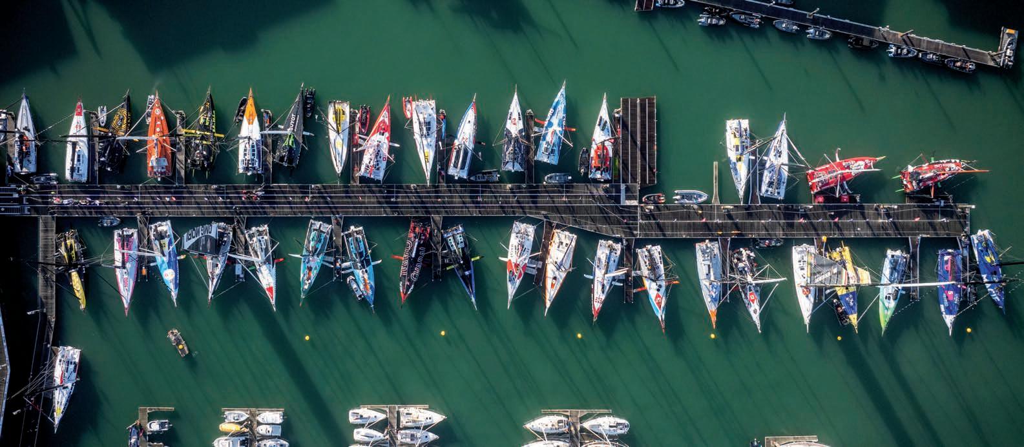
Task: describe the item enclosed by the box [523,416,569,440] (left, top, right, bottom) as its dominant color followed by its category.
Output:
white boat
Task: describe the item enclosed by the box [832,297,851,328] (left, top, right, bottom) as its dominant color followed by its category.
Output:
black boat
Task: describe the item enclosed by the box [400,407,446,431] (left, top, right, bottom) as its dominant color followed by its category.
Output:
white boat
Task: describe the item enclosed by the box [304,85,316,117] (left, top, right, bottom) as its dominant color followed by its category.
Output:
black boat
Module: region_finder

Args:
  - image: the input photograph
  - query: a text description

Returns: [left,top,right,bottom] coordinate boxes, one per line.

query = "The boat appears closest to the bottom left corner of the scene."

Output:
[1,346,81,435]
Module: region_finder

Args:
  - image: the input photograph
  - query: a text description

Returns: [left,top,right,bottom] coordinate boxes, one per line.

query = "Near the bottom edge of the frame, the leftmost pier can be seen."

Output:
[137,408,174,447]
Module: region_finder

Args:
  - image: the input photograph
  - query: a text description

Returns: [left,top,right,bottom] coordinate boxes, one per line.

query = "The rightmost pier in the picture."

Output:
[1000,27,1018,67]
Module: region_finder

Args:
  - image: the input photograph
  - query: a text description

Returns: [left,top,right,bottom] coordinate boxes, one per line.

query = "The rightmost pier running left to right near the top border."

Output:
[696,0,1000,66]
